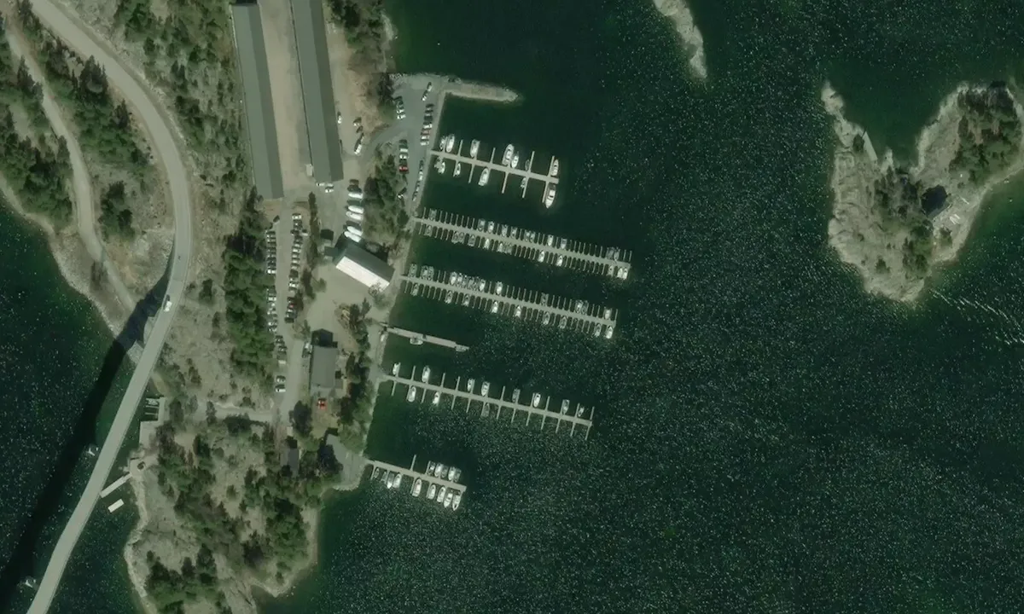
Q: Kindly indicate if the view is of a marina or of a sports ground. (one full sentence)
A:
This image shows a marina.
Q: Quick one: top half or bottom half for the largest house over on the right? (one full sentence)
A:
The largest house over on the right is in the top half of the image.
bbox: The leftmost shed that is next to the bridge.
[232,3,284,199]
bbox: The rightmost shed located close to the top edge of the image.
[292,0,344,182]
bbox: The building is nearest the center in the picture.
[335,243,395,294]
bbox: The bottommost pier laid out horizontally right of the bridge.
[366,455,467,502]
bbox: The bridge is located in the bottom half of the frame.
[24,238,190,614]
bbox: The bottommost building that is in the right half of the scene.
[920,190,949,218]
